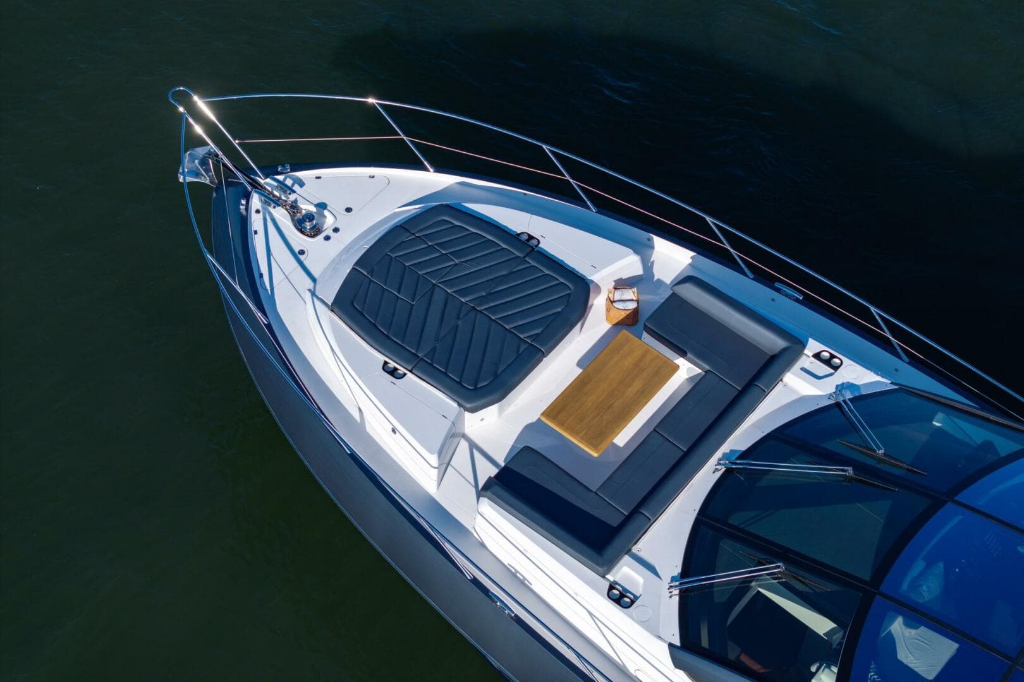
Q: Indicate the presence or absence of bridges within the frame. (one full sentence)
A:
No, the scene contains no bridge.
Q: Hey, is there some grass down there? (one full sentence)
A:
No, grass can't be seen anywhere here.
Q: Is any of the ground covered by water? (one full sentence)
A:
Yes, water can be seen from above here.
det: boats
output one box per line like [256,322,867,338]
[168,87,1024,682]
